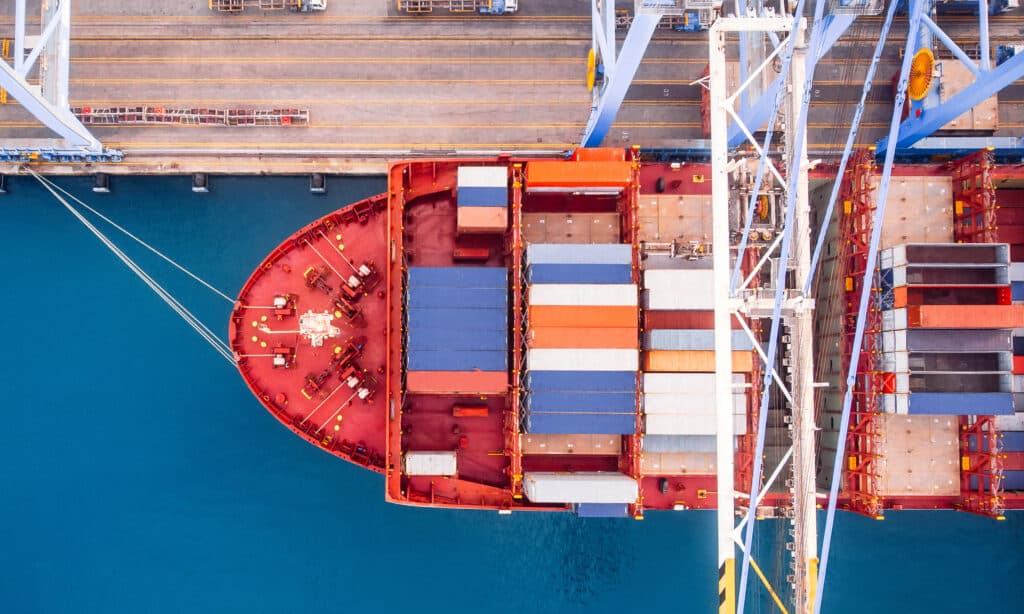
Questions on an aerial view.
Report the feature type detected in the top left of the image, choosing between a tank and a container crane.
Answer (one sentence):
What appears in the top left of the image is a container crane.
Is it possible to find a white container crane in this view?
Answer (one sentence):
Yes, the photo shows a white container crane.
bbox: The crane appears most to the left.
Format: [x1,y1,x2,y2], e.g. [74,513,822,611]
[0,0,131,160]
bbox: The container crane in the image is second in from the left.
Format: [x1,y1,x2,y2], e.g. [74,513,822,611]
[571,0,927,614]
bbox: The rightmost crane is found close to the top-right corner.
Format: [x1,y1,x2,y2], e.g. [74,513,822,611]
[863,0,1024,160]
